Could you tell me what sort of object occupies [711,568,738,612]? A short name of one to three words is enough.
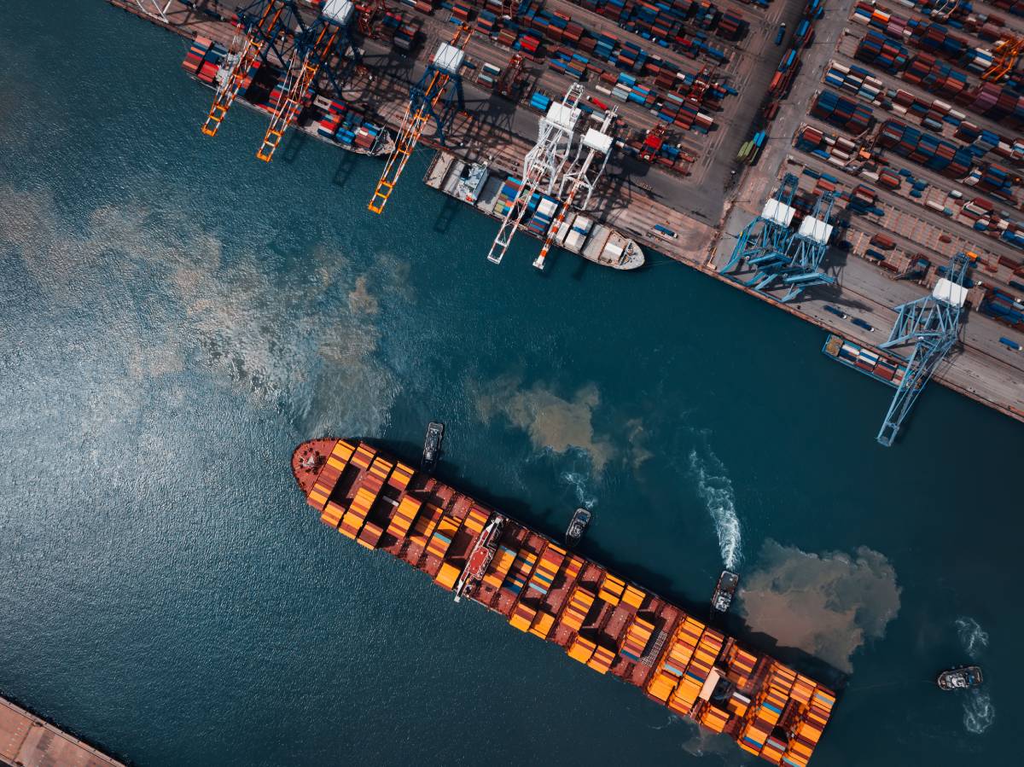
boat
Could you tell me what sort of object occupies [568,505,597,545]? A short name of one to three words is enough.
boat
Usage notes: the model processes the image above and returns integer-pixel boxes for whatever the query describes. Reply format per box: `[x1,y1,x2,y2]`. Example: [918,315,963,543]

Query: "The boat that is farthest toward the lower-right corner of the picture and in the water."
[938,666,988,692]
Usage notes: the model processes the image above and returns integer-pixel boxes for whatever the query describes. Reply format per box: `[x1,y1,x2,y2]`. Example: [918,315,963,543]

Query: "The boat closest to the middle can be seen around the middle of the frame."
[422,421,442,470]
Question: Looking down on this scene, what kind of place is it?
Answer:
port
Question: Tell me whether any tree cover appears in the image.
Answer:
No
